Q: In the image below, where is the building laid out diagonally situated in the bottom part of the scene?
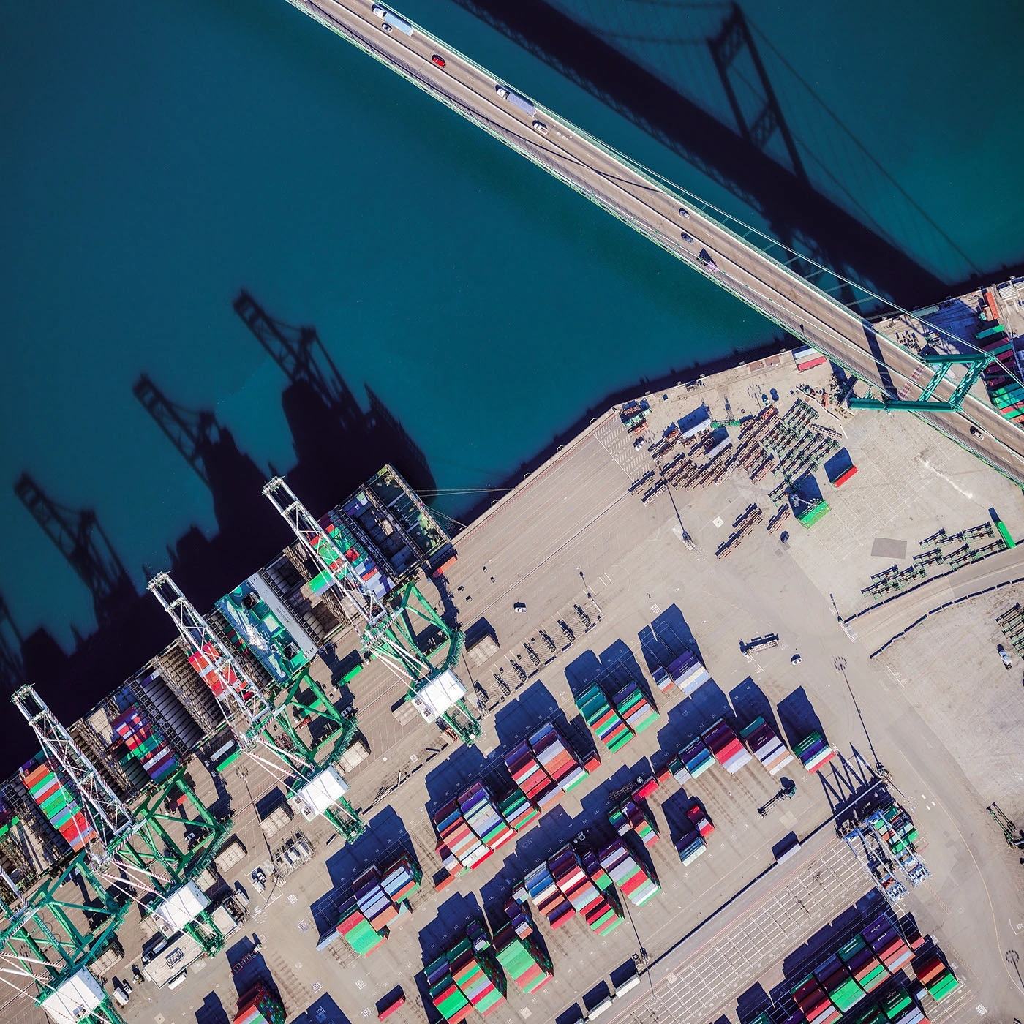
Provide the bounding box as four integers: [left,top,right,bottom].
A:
[145,904,238,986]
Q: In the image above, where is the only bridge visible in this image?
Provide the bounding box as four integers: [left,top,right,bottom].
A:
[275,0,1024,495]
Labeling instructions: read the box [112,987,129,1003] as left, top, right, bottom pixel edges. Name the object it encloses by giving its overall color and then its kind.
white vehicle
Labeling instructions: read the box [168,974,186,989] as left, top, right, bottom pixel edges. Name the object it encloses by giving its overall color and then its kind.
white vehicle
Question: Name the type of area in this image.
port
